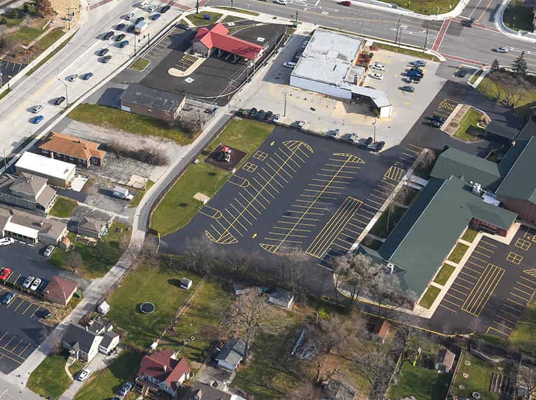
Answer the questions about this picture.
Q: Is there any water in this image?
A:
No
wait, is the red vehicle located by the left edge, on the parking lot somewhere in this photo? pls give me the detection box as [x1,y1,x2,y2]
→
[0,267,12,279]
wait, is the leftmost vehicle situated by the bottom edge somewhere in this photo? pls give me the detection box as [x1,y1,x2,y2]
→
[78,368,90,382]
